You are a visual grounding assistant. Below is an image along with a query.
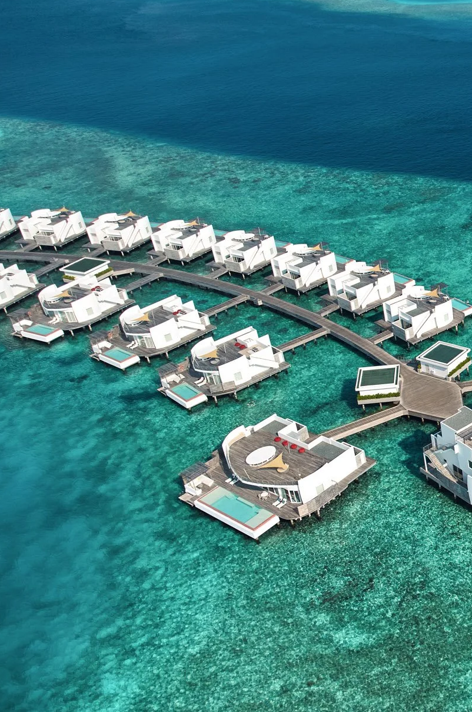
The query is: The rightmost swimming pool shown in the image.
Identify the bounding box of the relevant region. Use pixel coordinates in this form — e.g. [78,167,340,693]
[454,298,472,318]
